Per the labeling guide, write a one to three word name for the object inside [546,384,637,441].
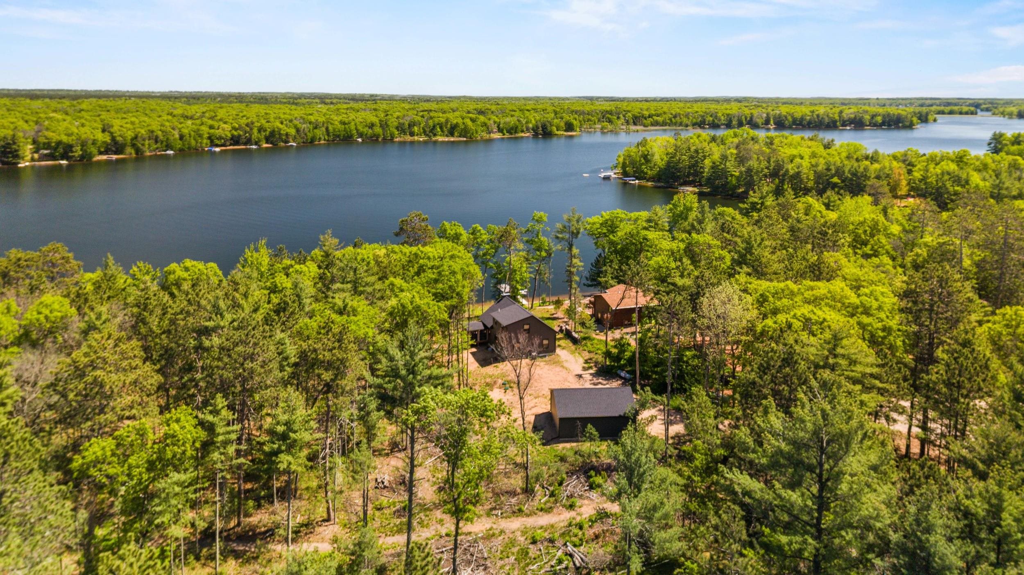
building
